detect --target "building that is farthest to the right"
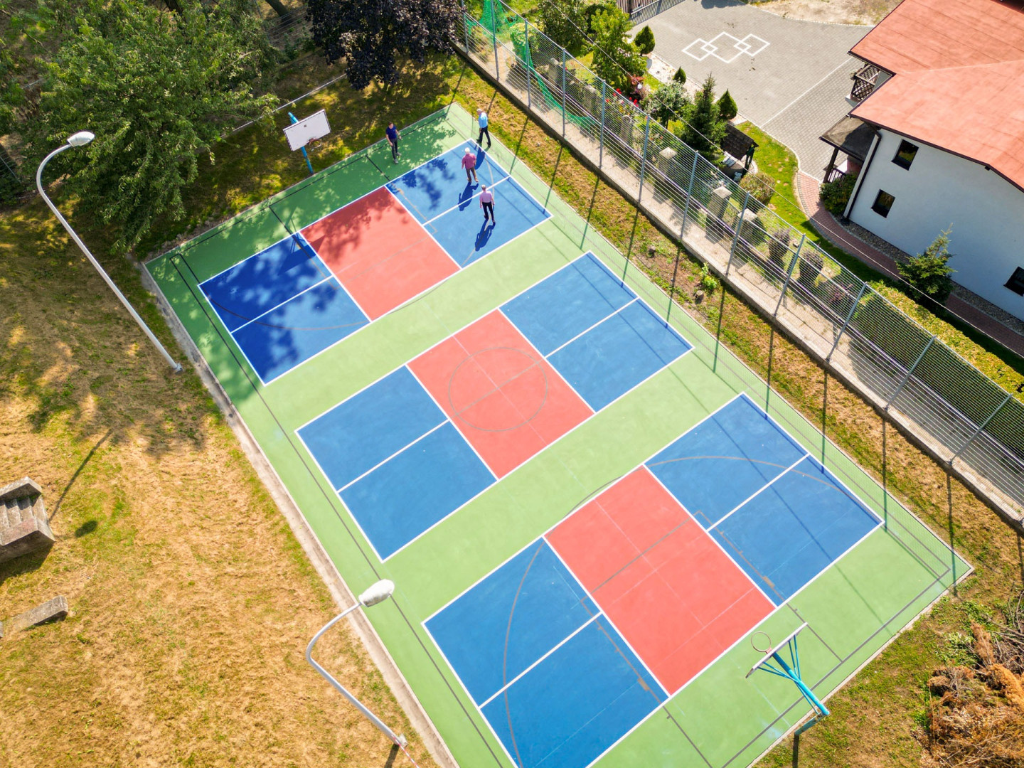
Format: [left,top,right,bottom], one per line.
[813,0,1024,324]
